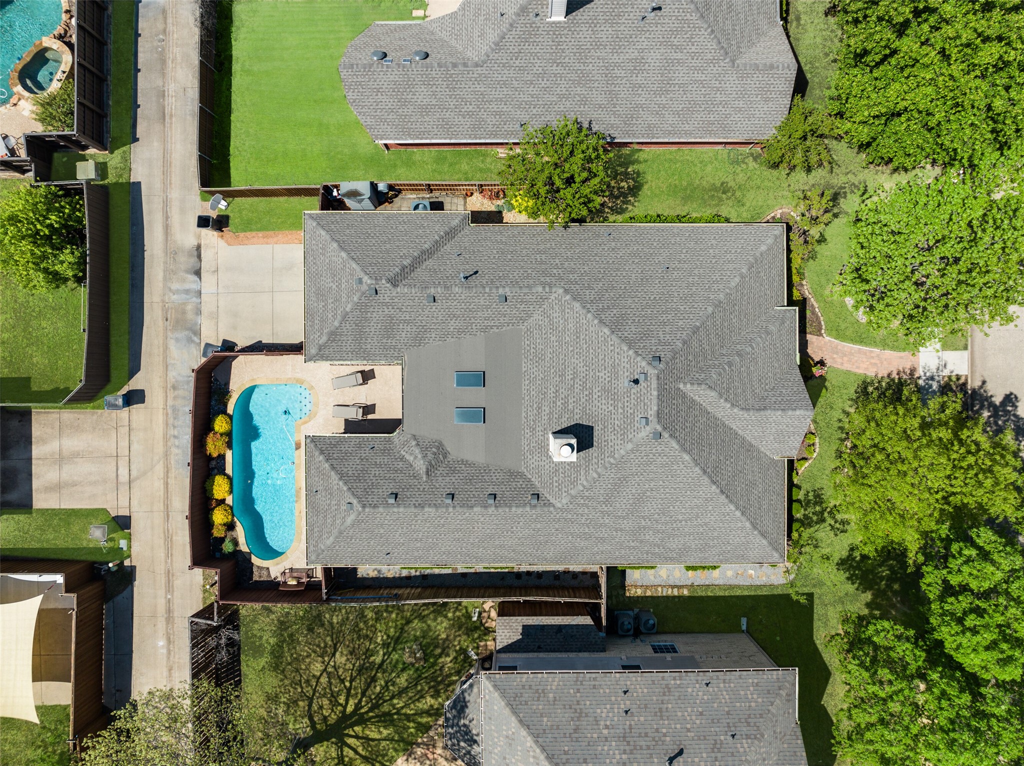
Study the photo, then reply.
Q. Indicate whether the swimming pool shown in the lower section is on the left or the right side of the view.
left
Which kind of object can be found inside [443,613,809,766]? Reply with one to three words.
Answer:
house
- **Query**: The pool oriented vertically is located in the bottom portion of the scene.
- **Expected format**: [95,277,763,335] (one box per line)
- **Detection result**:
[226,377,319,567]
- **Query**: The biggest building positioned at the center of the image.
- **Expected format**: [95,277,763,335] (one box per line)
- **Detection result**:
[302,210,815,567]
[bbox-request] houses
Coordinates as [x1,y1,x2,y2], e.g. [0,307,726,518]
[340,0,797,152]
[302,210,815,567]
[443,613,809,766]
